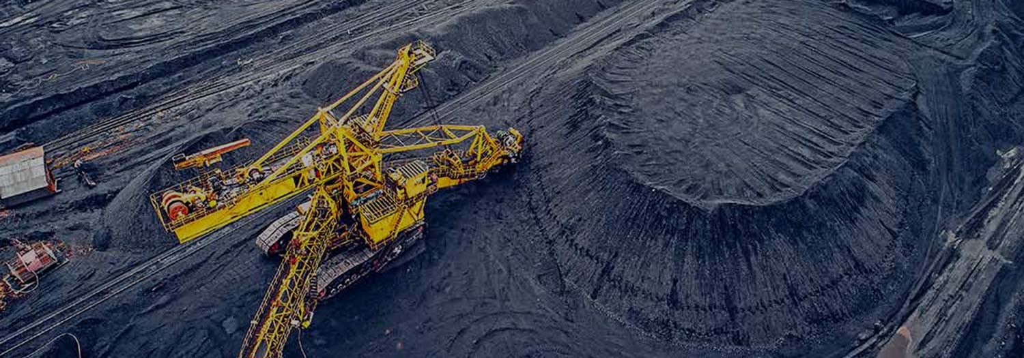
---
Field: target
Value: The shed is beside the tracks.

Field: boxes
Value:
[0,147,64,210]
